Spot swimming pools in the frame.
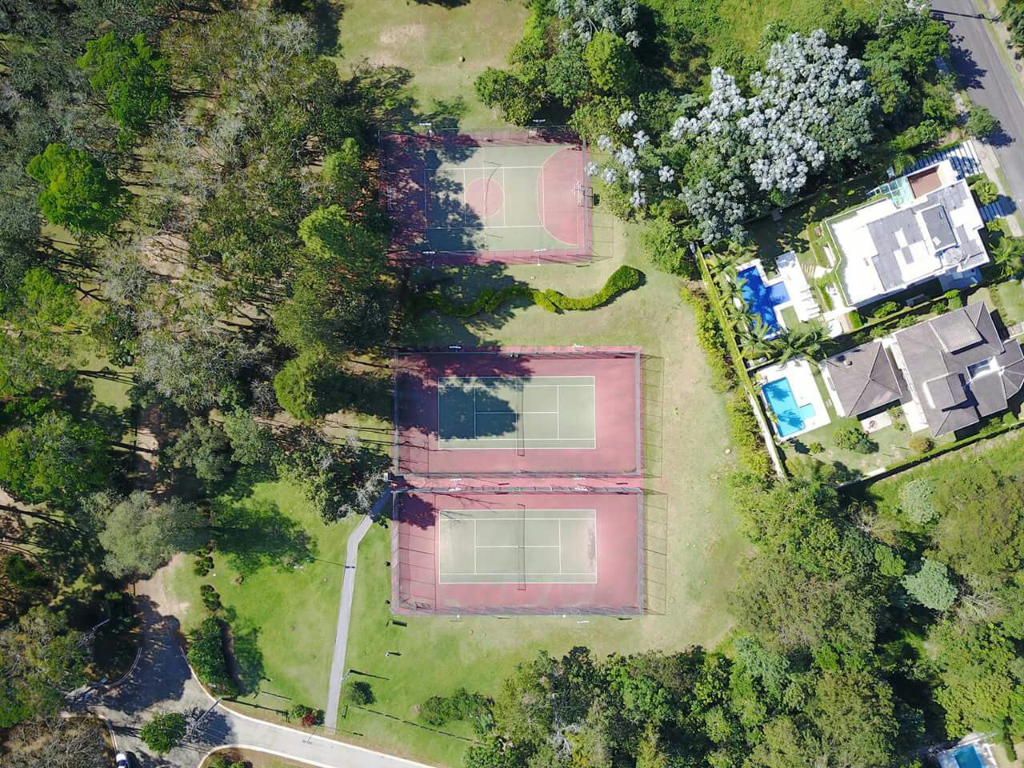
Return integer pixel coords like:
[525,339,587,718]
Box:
[736,251,820,340]
[938,747,989,768]
[758,357,831,442]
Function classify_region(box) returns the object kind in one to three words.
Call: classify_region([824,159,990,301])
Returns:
house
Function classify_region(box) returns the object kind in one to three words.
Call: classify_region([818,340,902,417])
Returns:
building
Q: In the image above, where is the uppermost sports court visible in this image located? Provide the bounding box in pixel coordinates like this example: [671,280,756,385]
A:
[380,132,592,266]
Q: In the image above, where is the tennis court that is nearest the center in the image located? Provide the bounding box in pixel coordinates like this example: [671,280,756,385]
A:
[391,346,643,478]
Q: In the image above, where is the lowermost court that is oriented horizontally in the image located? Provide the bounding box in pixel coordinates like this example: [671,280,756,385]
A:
[392,490,644,615]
